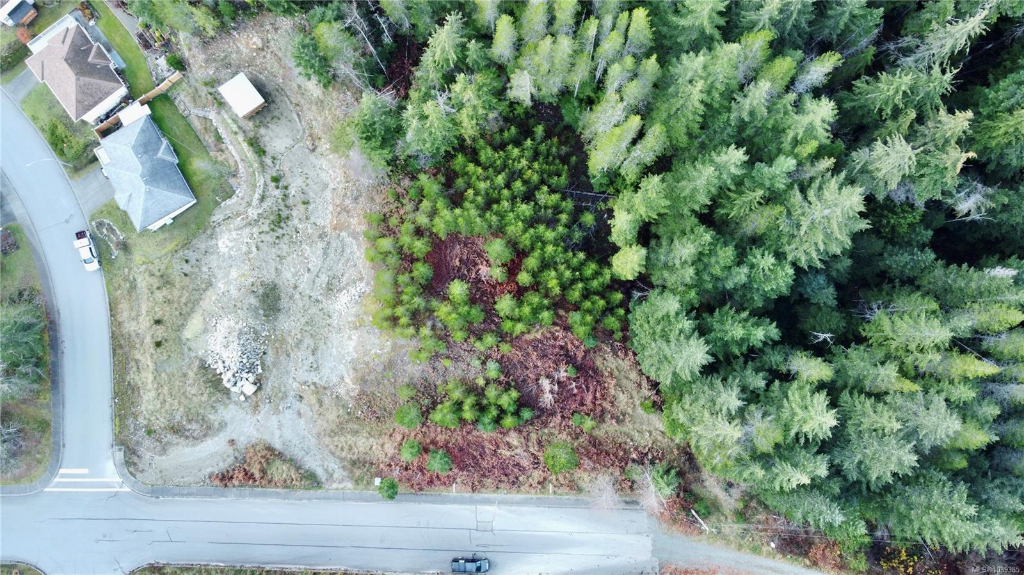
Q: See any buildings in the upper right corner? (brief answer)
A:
No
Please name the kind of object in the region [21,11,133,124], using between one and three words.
house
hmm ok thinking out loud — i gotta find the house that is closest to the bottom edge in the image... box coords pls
[94,115,200,232]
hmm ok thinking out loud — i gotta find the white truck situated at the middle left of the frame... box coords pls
[73,229,103,273]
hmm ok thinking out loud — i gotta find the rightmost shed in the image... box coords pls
[219,72,271,121]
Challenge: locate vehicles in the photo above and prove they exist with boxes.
[450,556,491,575]
[73,229,103,273]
